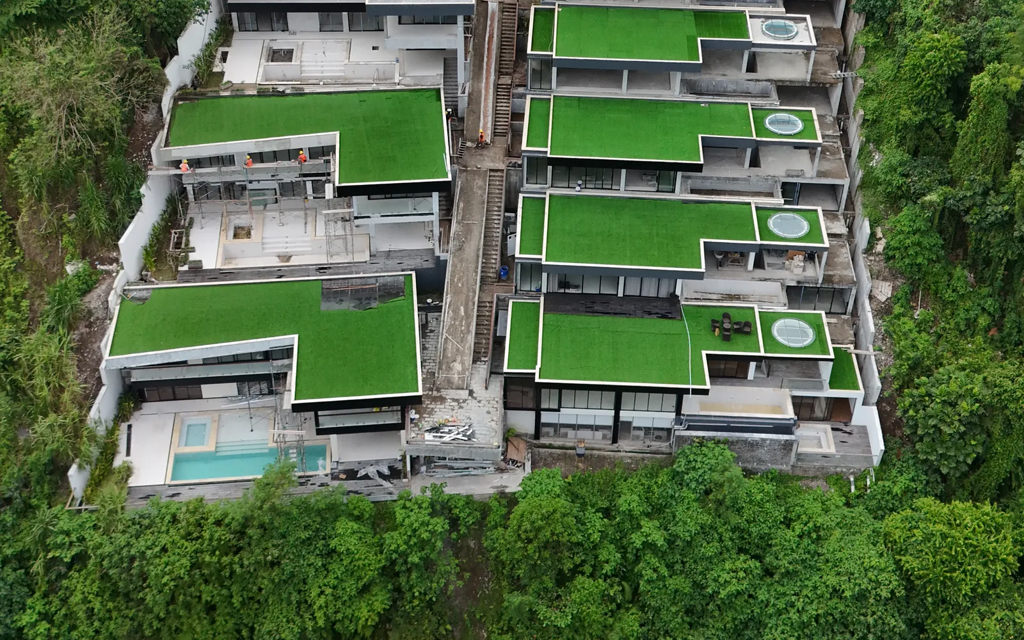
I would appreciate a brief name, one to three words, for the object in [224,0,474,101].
house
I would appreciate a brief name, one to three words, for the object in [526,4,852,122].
house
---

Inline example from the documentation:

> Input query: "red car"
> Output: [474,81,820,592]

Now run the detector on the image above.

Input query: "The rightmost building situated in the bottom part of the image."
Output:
[503,296,881,488]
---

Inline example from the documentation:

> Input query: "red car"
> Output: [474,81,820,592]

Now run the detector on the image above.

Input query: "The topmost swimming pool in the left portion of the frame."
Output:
[260,40,399,85]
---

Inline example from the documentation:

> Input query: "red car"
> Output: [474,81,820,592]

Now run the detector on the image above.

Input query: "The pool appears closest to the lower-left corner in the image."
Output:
[168,409,335,486]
